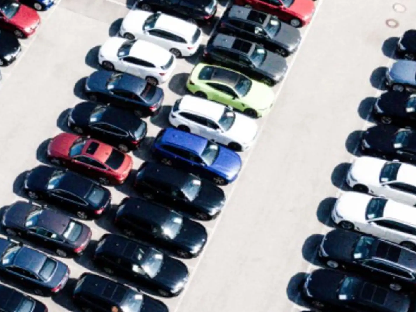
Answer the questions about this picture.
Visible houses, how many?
zero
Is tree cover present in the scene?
No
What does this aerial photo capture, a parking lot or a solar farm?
parking lot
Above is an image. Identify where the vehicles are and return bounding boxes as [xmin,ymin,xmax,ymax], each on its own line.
[127,159,226,223]
[80,70,168,120]
[103,41,182,87]
[110,196,207,260]
[348,157,416,209]
[231,0,314,27]
[397,27,416,58]
[147,125,240,187]
[137,0,215,26]
[165,93,258,153]
[0,0,43,40]
[183,62,272,118]
[66,102,147,153]
[384,57,416,90]
[0,201,94,260]
[0,283,52,312]
[90,231,189,299]
[200,31,286,87]
[20,165,113,222]
[333,191,416,250]
[319,230,416,292]
[119,10,201,58]
[359,122,416,167]
[302,268,415,312]
[213,3,302,57]
[68,270,171,312]
[371,89,416,129]
[41,133,133,187]
[0,237,74,300]
[0,27,22,68]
